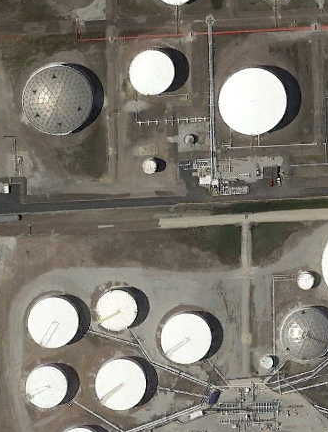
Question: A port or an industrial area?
industrial area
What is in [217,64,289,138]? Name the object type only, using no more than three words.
storage tank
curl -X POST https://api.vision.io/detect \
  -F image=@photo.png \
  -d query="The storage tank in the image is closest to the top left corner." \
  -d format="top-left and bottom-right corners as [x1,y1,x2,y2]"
[22,62,95,137]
